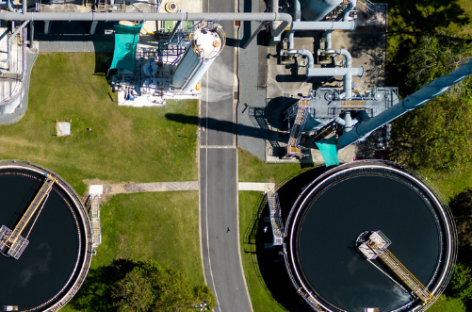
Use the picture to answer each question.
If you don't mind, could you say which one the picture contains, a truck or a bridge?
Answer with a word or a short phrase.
bridge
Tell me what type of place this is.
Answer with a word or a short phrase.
industrial area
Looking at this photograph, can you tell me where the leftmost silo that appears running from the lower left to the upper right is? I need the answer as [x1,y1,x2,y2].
[167,21,225,94]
